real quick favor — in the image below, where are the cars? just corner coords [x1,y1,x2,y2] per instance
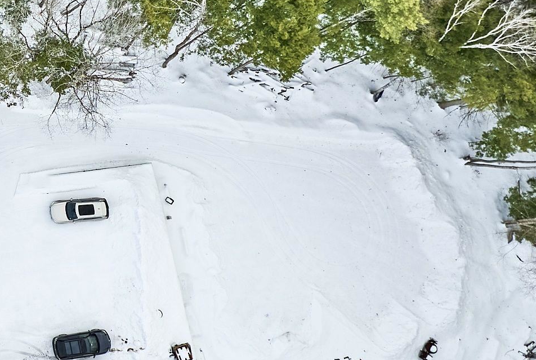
[50,329,112,360]
[47,196,111,225]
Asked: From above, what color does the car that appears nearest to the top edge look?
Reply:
white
